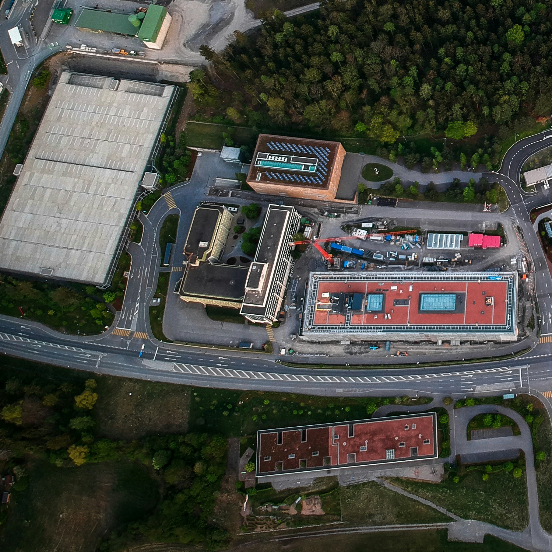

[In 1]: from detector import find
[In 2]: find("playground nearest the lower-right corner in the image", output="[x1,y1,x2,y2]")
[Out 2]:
[377,467,443,482]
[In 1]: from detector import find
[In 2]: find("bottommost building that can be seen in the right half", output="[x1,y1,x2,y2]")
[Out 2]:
[256,412,439,477]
